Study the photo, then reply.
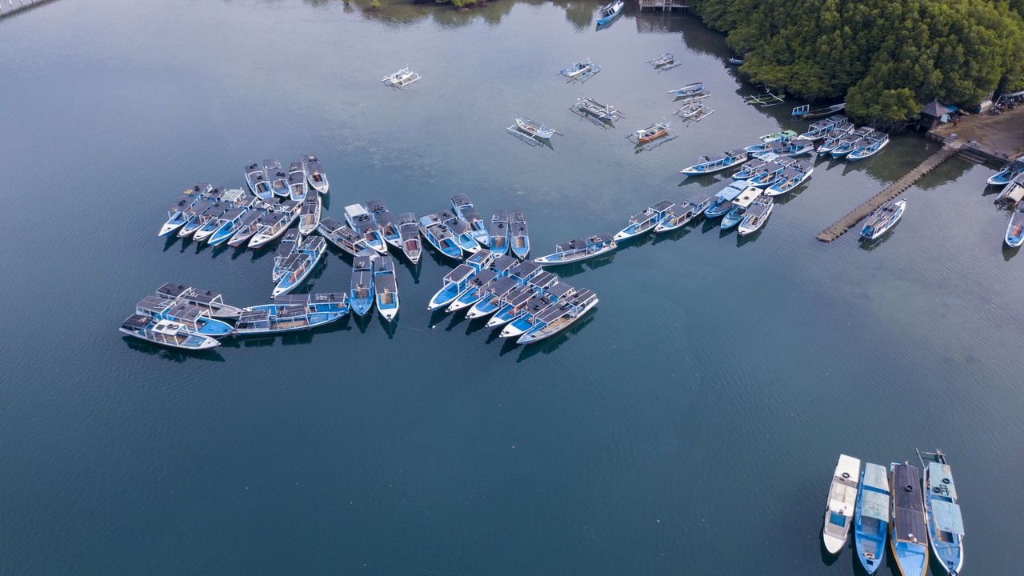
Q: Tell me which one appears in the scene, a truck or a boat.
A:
boat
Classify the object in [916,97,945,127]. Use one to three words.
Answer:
shed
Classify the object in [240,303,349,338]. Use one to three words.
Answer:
boat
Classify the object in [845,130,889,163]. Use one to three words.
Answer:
boat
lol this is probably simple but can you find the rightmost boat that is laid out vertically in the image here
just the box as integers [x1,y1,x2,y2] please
[1004,200,1024,250]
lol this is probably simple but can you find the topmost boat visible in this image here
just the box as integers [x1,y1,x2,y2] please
[597,0,625,26]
